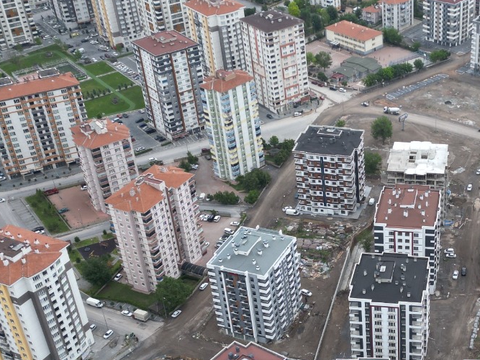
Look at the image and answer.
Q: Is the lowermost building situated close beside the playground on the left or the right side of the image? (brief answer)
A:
left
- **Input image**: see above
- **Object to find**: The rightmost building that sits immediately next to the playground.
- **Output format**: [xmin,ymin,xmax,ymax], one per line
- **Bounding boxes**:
[105,165,205,286]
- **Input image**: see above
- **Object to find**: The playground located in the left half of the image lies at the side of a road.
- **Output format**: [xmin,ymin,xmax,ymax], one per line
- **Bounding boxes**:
[74,235,116,259]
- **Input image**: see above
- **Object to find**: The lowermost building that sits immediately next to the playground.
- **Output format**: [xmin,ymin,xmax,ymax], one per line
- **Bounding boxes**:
[0,226,91,360]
